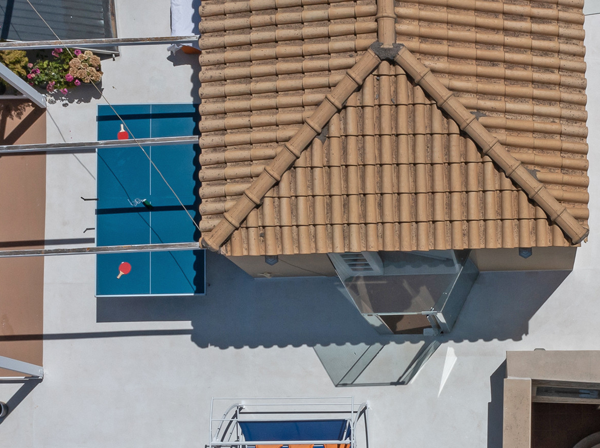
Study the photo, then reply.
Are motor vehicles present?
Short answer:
No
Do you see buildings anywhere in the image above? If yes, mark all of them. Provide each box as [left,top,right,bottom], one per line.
[531,381,600,409]
[192,0,594,273]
